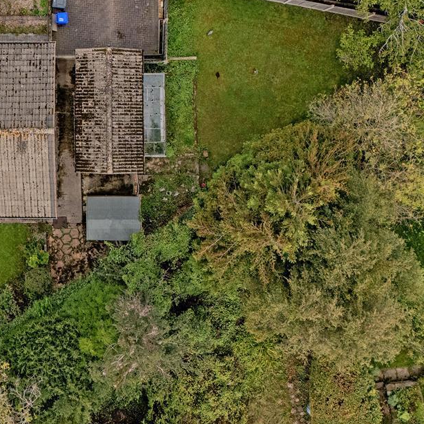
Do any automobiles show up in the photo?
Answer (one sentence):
No, there is no automobile in the image.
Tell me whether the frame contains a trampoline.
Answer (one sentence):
No, there's no trampoline here.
